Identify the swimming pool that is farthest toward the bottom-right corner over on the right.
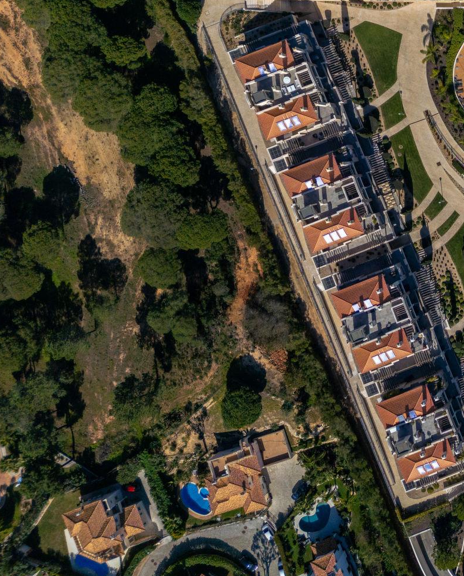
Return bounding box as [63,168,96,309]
[298,502,332,534]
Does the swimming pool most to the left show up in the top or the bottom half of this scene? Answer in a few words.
bottom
